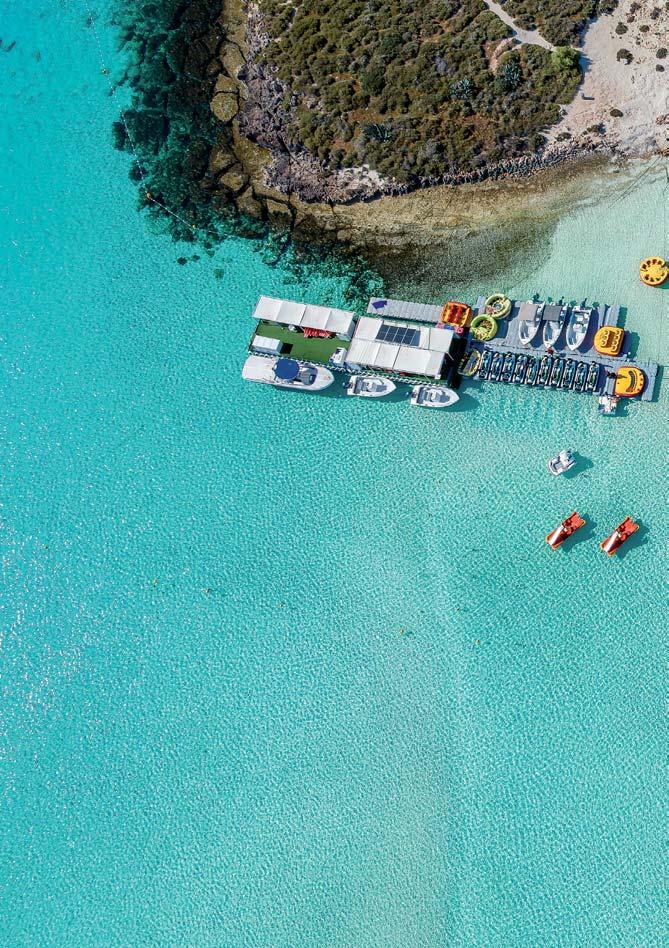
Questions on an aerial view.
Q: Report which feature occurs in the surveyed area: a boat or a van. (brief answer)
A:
boat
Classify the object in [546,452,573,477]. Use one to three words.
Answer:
boat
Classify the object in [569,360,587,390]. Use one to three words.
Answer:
boat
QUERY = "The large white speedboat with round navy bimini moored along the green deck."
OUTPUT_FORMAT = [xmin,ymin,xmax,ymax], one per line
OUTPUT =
[241,354,334,388]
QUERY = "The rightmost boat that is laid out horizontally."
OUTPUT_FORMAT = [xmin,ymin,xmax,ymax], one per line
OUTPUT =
[407,383,460,407]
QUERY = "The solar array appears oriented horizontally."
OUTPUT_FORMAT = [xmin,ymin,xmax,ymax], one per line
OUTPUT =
[378,325,420,346]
